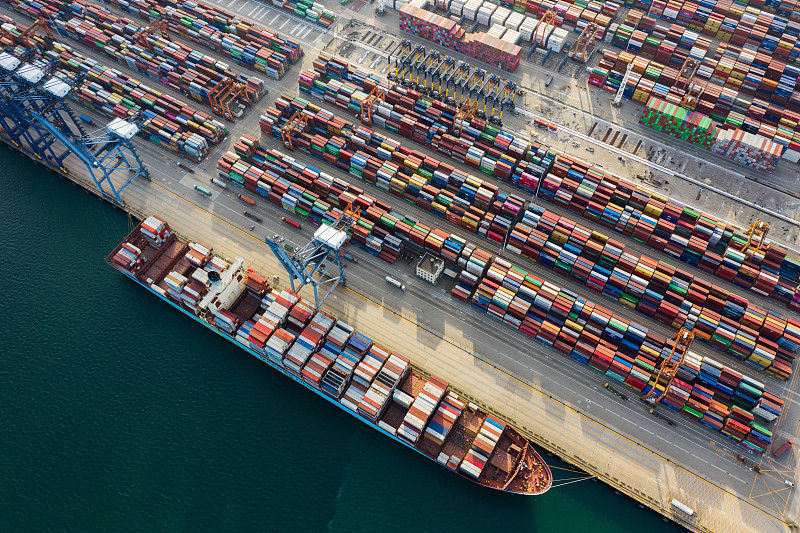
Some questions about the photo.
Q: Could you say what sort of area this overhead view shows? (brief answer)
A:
port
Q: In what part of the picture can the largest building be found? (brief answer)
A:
center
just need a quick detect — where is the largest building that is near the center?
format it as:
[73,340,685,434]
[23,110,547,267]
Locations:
[417,250,445,284]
